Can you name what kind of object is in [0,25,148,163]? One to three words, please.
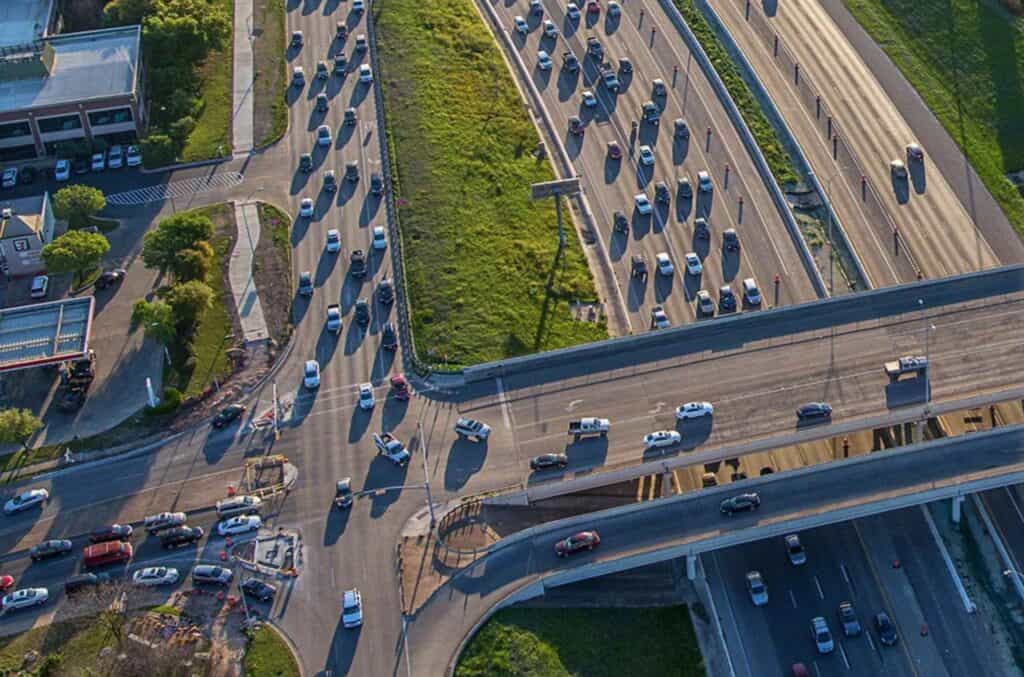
building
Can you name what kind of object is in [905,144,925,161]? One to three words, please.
car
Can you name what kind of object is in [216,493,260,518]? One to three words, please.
vehicle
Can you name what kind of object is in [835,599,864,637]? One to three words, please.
truck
